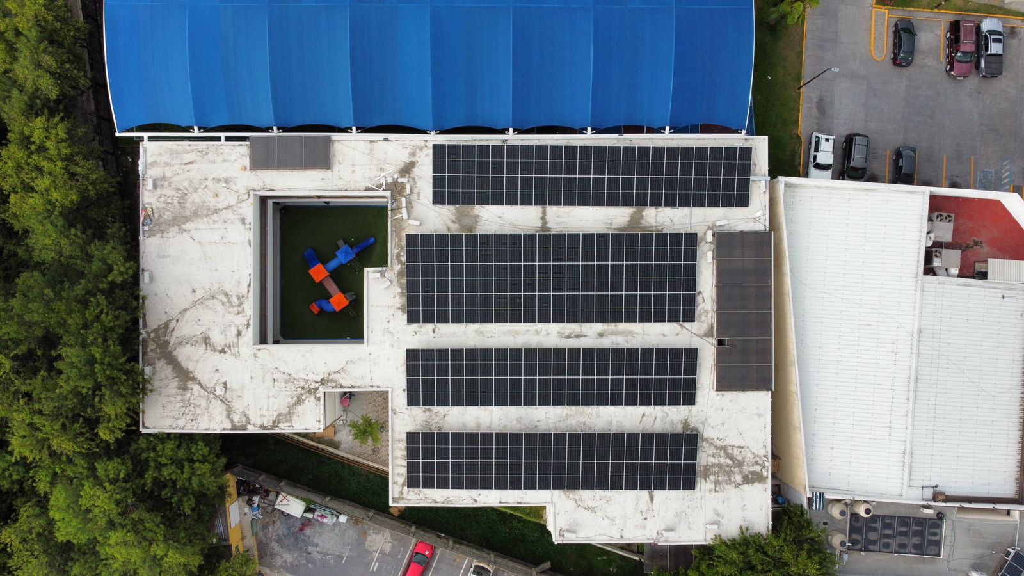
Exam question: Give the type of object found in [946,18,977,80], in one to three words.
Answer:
car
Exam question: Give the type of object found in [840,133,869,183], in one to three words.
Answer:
car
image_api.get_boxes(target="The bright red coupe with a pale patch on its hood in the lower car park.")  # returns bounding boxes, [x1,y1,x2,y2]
[403,539,434,576]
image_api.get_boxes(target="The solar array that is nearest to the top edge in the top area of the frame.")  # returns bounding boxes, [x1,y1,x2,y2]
[432,145,752,207]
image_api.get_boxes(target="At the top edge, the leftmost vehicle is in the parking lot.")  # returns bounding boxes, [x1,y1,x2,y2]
[894,19,920,68]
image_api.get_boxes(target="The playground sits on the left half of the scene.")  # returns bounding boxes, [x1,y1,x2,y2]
[303,236,375,321]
